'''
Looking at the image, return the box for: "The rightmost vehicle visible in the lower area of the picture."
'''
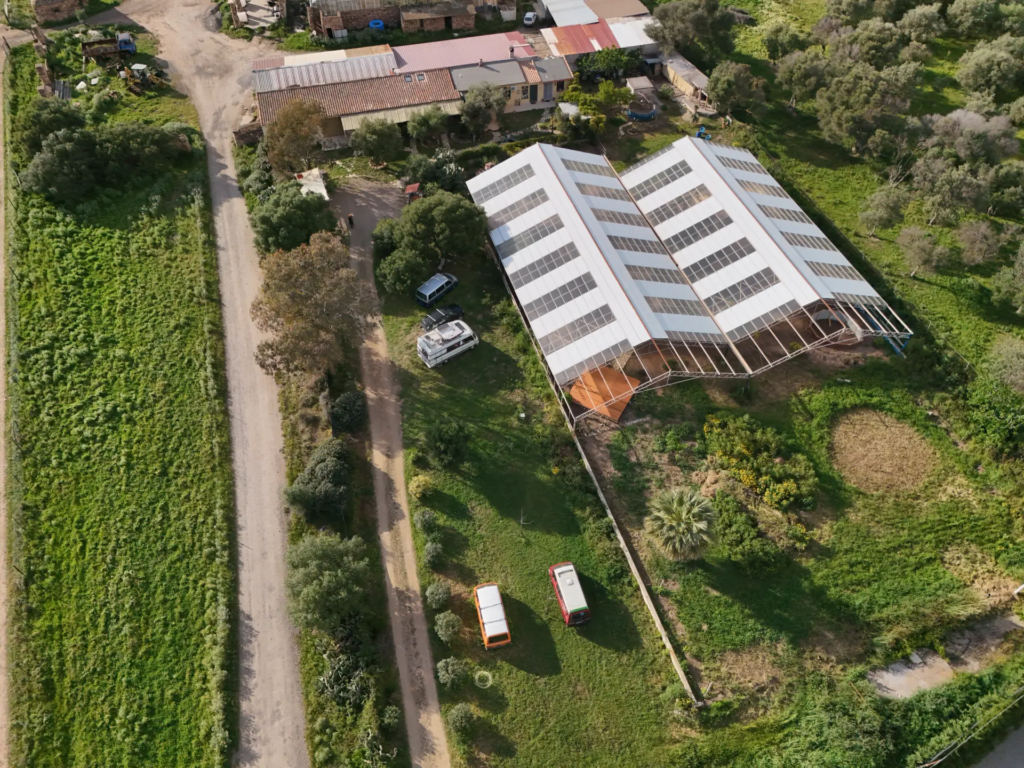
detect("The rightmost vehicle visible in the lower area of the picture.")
[549,562,589,627]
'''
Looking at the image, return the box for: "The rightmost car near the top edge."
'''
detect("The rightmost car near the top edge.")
[524,10,536,26]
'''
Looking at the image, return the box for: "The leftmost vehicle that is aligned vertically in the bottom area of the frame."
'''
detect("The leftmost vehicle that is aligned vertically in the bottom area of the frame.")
[470,584,509,651]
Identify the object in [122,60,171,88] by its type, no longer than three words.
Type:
work vehicle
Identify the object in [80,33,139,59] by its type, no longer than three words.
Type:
truck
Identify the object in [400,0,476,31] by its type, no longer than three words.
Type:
shed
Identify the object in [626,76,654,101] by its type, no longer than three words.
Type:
shed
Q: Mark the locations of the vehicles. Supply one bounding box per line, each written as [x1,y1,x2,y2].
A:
[470,584,509,651]
[418,274,461,310]
[416,320,483,364]
[122,60,171,88]
[419,304,468,333]
[80,33,139,59]
[549,562,589,627]
[524,10,536,26]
